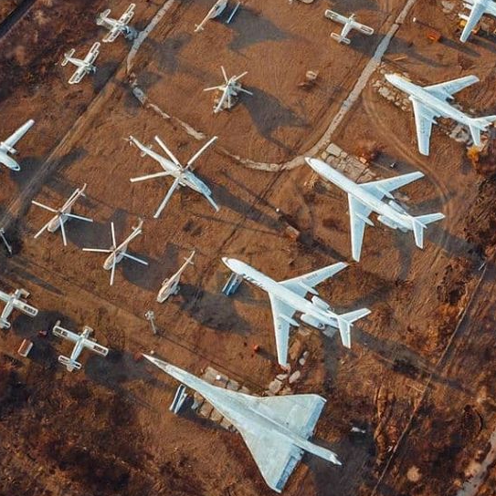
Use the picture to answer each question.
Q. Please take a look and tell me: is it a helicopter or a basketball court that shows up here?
helicopter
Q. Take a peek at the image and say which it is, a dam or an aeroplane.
aeroplane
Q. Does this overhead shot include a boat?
No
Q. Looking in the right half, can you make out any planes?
Yes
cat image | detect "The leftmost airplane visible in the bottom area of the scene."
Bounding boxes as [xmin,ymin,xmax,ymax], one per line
[0,290,41,331]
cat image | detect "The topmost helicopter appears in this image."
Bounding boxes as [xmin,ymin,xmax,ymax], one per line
[198,0,233,30]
